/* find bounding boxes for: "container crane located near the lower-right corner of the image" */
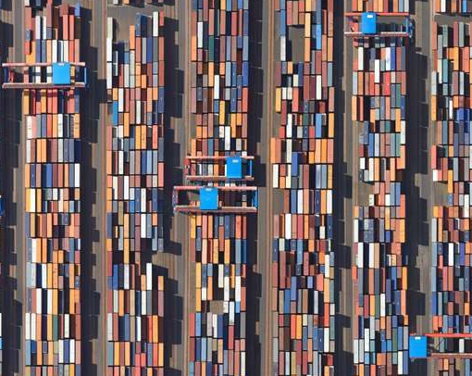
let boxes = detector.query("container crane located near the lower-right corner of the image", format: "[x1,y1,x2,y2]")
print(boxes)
[407,328,472,361]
